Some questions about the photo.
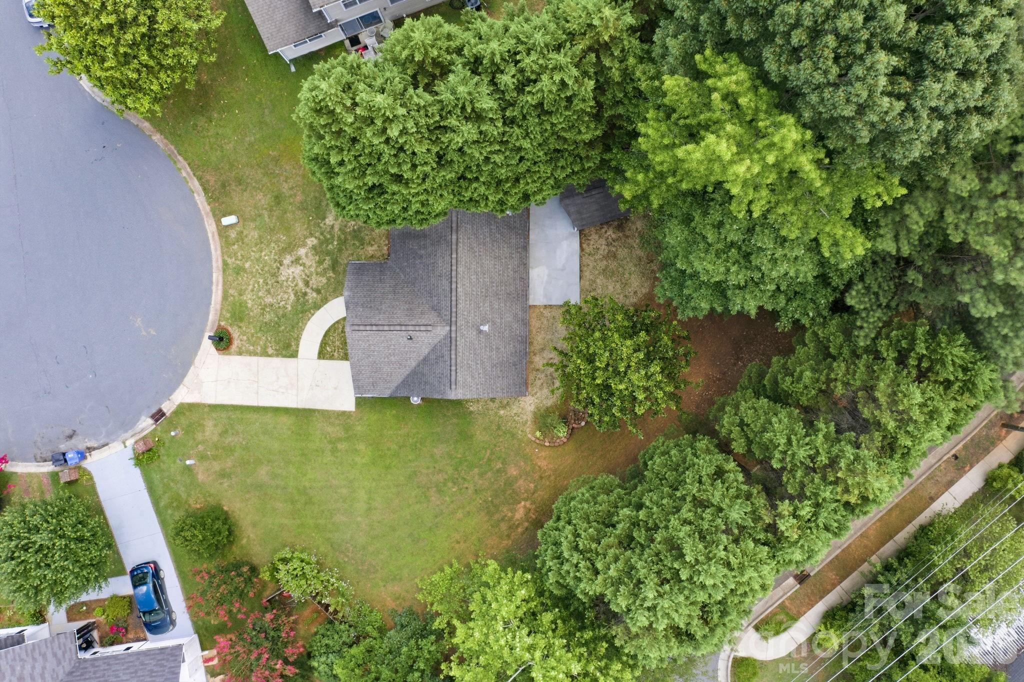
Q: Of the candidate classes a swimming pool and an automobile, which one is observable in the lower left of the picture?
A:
automobile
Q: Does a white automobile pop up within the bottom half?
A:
No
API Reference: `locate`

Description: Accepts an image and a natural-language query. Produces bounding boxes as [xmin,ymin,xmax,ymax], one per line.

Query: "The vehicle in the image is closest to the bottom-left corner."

[129,561,177,637]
